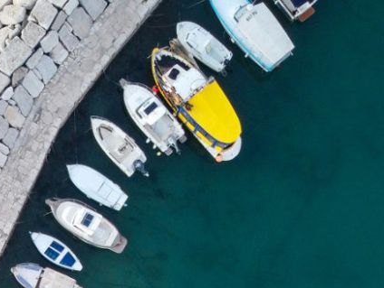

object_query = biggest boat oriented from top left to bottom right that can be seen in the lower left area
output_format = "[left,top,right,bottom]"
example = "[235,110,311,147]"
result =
[41,195,129,257]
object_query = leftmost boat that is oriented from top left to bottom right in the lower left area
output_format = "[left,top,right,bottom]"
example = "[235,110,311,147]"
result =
[28,231,82,272]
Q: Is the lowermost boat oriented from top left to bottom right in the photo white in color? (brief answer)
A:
Yes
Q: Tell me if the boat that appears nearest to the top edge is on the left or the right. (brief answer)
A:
right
